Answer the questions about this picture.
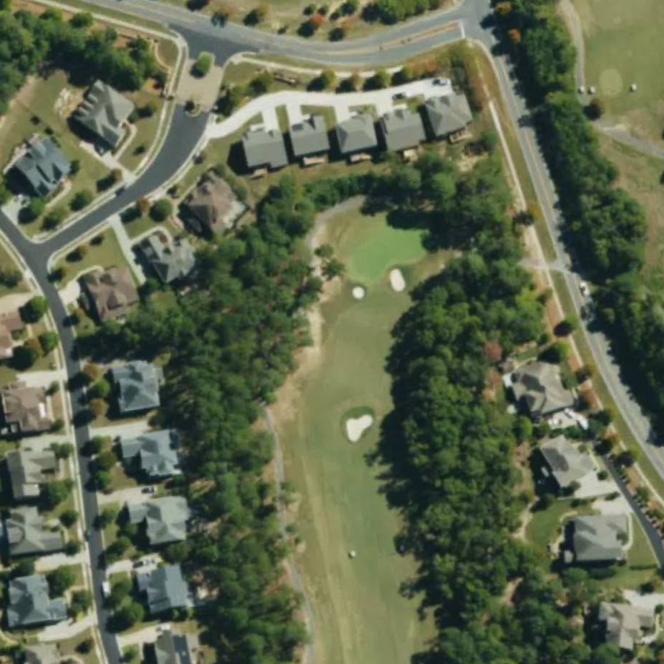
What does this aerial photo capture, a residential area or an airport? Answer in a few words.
residential area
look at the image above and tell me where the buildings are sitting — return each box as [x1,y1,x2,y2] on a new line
[138,231,194,283]
[425,92,475,140]
[184,174,242,232]
[514,358,578,418]
[82,266,139,319]
[11,131,71,194]
[290,114,329,161]
[0,310,24,360]
[2,574,73,626]
[127,496,191,543]
[108,362,167,411]
[242,127,286,175]
[337,112,378,158]
[119,430,187,476]
[153,629,197,664]
[566,512,630,566]
[21,645,82,664]
[538,433,600,489]
[5,388,52,433]
[383,108,425,156]
[134,563,196,613]
[593,601,658,654]
[3,449,59,502]
[0,507,67,556]
[74,83,134,147]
